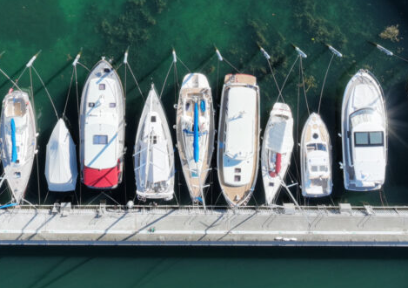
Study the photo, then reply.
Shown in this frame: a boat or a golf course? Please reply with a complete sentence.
I can see a boat in this picture.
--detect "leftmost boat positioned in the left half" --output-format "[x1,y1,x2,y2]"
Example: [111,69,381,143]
[0,67,41,209]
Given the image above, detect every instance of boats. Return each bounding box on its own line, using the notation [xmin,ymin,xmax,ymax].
[75,54,129,212]
[173,63,217,214]
[295,57,341,197]
[29,67,79,204]
[336,65,388,205]
[126,63,176,206]
[259,58,308,228]
[213,61,264,215]
[0,67,41,209]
